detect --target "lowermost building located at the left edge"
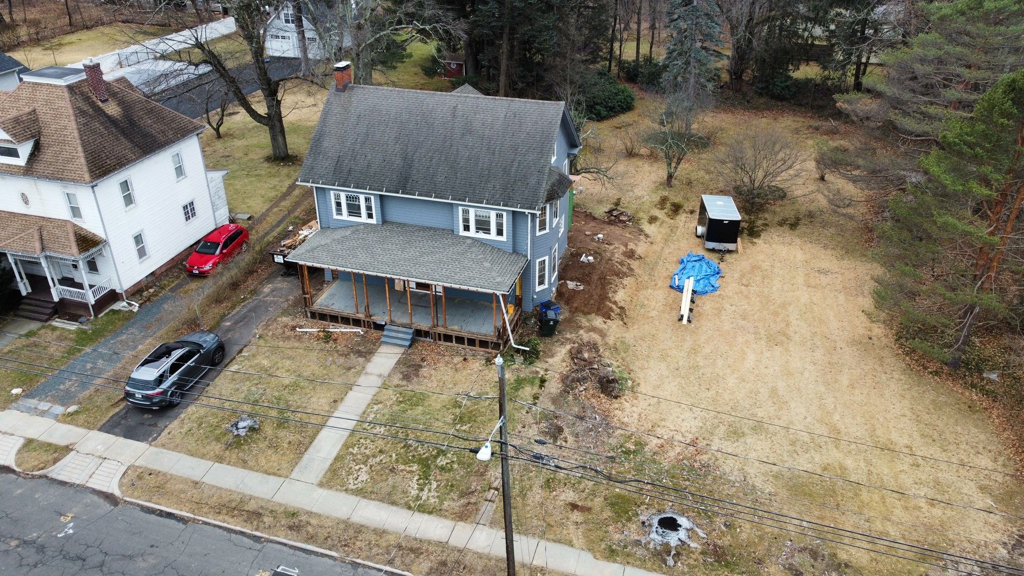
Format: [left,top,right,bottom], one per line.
[0,55,237,321]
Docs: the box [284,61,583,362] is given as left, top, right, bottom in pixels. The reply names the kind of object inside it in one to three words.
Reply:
house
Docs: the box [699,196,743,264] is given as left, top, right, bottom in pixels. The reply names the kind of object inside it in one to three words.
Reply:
trailer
